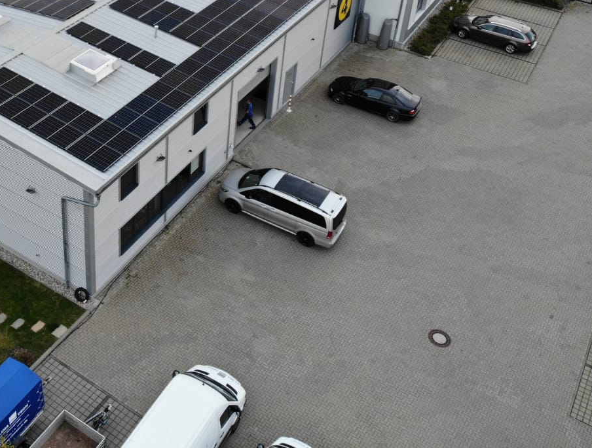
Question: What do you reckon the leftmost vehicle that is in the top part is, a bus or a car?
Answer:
car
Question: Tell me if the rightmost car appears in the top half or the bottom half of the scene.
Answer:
top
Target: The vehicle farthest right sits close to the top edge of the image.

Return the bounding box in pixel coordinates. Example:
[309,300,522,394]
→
[445,9,537,49]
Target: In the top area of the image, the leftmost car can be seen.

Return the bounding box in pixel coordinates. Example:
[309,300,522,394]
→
[325,69,422,117]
